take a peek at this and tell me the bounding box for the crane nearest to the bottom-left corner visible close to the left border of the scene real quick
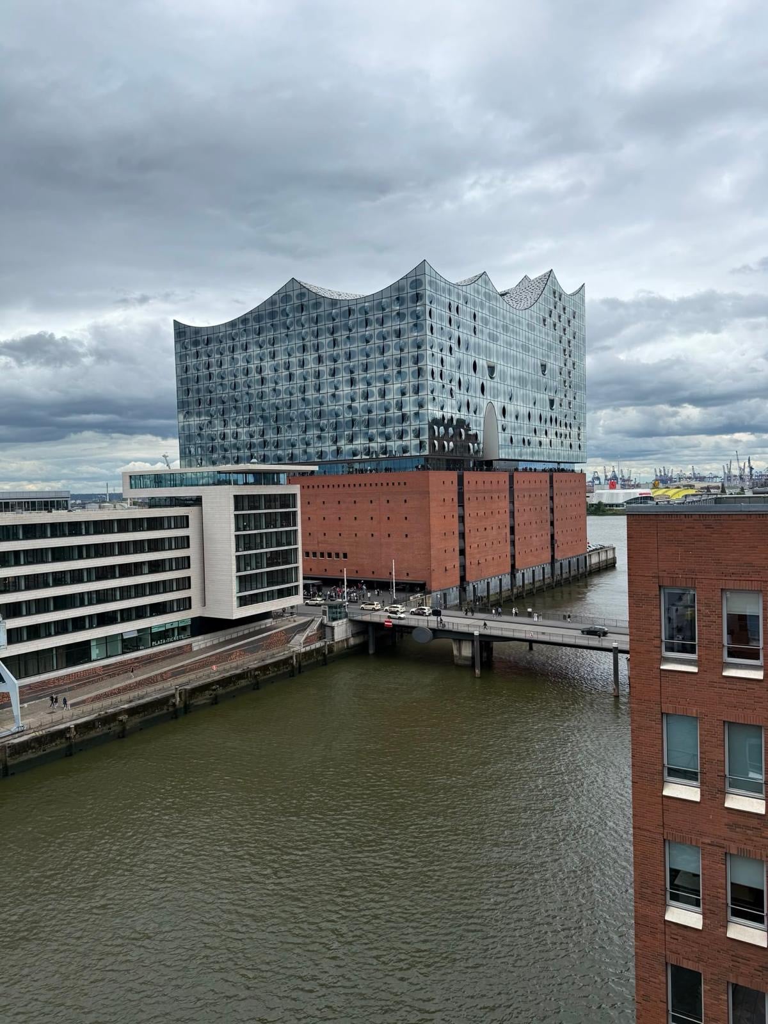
[0,622,31,730]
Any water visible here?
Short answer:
Yes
